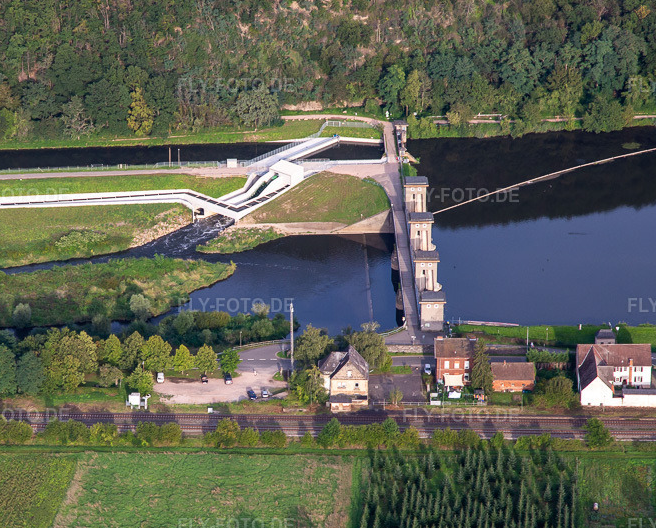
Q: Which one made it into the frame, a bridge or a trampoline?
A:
bridge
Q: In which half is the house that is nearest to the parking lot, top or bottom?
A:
bottom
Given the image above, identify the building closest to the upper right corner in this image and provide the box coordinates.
[395,123,411,156]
